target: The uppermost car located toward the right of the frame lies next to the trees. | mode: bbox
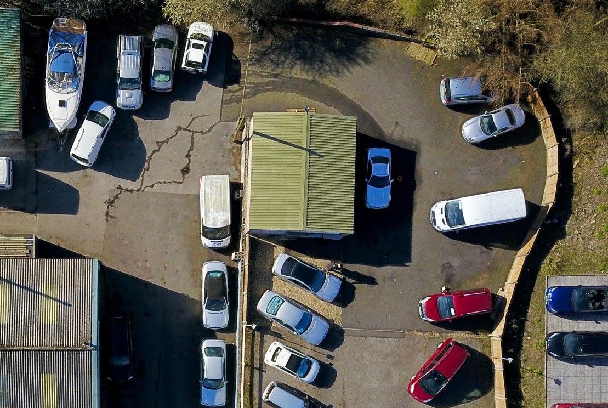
[440,73,495,108]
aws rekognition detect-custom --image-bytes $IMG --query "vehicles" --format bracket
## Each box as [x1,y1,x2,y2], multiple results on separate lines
[256,287,331,348]
[459,103,526,145]
[0,157,13,191]
[66,101,117,169]
[198,173,234,248]
[181,20,217,77]
[546,328,608,363]
[546,282,608,317]
[362,148,396,209]
[197,339,231,406]
[112,33,148,110]
[260,379,320,408]
[262,341,321,386]
[148,24,182,93]
[200,261,234,329]
[272,250,343,303]
[426,184,534,233]
[416,287,497,326]
[440,73,495,108]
